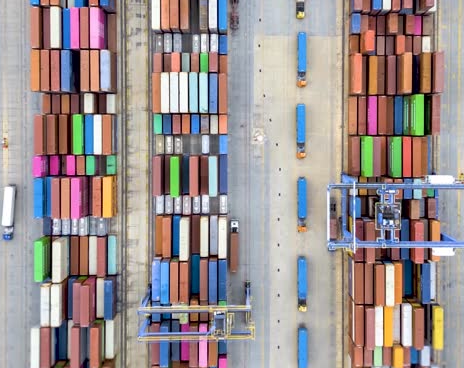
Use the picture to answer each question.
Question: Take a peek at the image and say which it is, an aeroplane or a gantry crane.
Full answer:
There is a gantry crane in the scene.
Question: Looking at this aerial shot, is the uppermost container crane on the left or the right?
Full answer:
The uppermost container crane appears in the right half of the scene.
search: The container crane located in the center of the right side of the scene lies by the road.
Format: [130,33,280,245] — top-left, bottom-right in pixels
[325,164,464,262]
